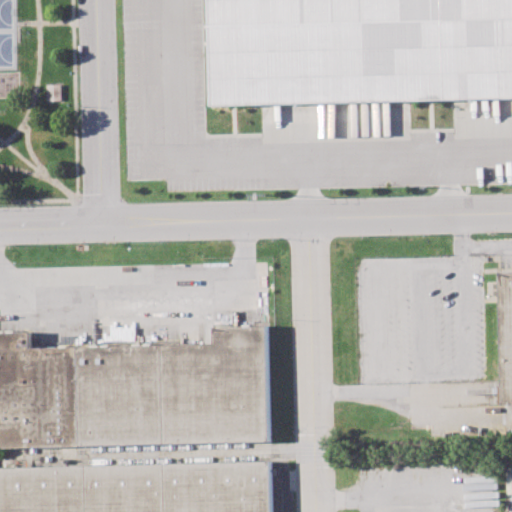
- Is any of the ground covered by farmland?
No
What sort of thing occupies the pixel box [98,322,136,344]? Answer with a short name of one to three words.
building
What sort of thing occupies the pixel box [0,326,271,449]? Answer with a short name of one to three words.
building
